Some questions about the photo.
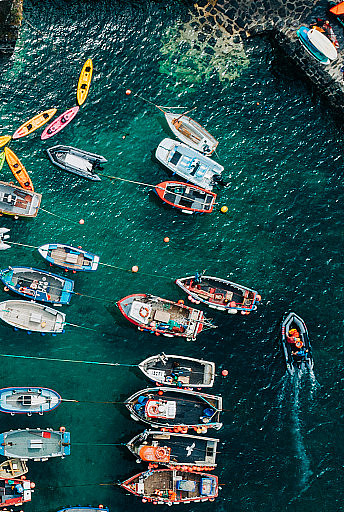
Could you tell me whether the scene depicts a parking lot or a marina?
marina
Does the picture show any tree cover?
No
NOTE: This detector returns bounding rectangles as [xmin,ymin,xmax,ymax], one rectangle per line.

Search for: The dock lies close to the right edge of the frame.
[249,0,344,124]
